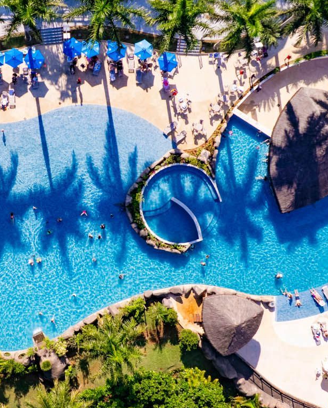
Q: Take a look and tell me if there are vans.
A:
No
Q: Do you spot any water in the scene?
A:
Yes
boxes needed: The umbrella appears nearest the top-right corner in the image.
[155,51,176,71]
